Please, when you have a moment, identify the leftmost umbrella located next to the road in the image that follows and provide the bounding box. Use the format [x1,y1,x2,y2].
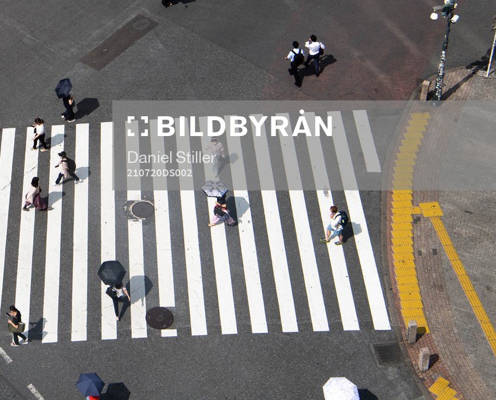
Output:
[56,78,78,102]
